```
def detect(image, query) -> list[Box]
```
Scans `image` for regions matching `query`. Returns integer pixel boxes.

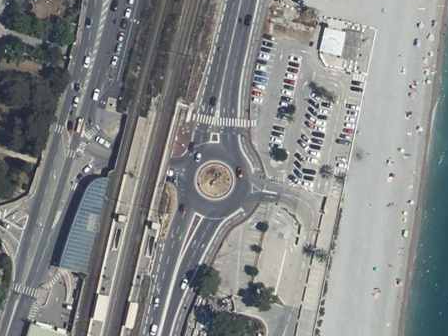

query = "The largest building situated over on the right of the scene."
[318,18,376,75]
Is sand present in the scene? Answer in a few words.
Yes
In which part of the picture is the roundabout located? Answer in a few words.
center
